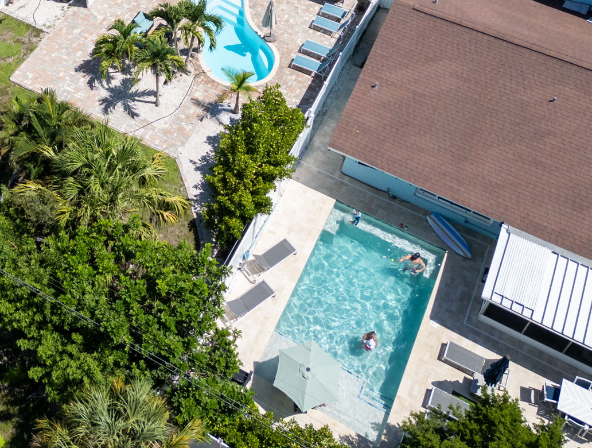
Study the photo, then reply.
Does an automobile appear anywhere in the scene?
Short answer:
No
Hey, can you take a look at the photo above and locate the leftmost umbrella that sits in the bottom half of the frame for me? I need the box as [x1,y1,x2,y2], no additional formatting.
[273,339,342,411]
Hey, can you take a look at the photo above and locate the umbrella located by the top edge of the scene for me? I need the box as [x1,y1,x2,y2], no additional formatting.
[262,0,280,44]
